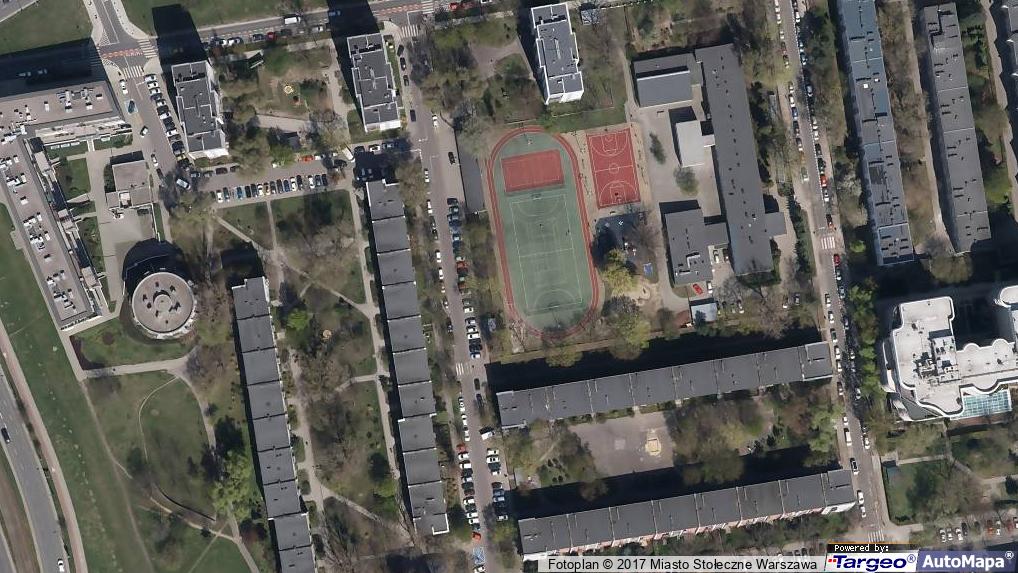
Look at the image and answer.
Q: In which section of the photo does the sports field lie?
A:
center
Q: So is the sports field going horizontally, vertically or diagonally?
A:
vertically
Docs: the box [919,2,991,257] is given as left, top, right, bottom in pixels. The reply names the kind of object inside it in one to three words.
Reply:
building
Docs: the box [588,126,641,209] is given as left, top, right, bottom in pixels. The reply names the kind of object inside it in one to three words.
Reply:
basketball court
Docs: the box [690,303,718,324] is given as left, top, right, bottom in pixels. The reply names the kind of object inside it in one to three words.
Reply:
shed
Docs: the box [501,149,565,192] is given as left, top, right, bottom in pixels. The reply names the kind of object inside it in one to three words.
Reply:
tennis court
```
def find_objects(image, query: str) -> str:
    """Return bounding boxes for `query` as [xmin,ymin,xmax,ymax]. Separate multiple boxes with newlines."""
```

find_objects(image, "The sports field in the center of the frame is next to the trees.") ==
[496,135,589,330]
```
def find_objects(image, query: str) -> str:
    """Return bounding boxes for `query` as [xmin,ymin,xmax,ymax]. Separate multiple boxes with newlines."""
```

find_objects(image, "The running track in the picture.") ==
[487,127,596,338]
